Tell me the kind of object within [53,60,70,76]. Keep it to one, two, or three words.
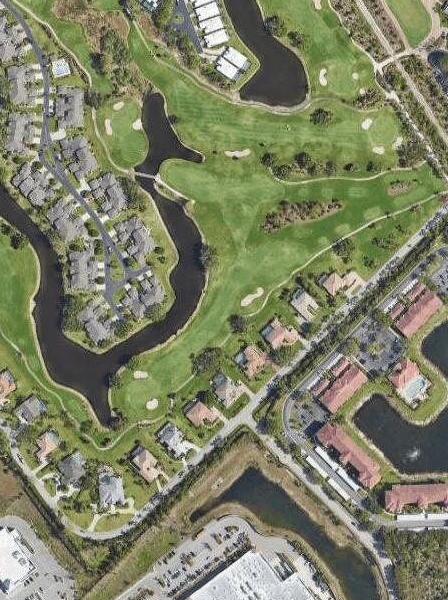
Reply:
swimming pool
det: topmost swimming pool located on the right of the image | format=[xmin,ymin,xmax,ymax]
[399,371,433,404]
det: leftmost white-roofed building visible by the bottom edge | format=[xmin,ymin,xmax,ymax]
[0,529,37,591]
